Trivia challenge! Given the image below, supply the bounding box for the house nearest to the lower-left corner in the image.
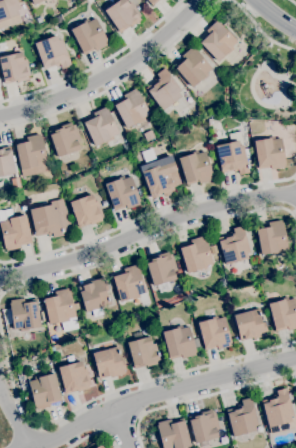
[30,372,62,409]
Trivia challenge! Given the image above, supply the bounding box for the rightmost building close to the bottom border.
[264,391,296,432]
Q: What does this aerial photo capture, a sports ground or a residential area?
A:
residential area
